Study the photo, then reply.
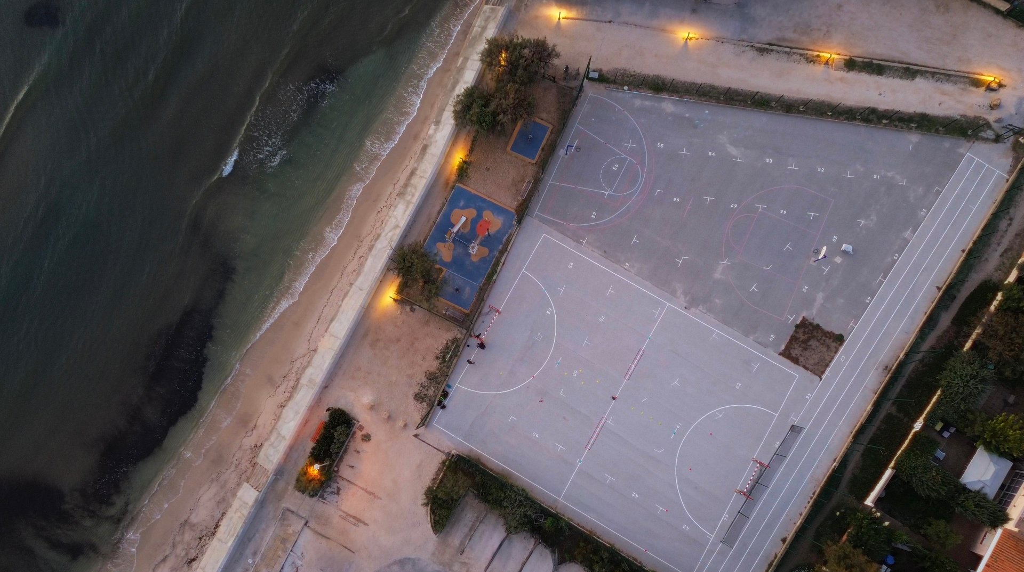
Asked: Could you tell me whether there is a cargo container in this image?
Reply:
No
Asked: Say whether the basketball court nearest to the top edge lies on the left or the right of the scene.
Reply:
right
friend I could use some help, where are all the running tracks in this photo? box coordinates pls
[704,142,1021,572]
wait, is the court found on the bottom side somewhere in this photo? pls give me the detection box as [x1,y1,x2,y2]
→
[416,215,821,572]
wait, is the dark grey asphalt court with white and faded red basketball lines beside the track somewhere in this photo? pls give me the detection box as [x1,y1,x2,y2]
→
[527,85,967,379]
